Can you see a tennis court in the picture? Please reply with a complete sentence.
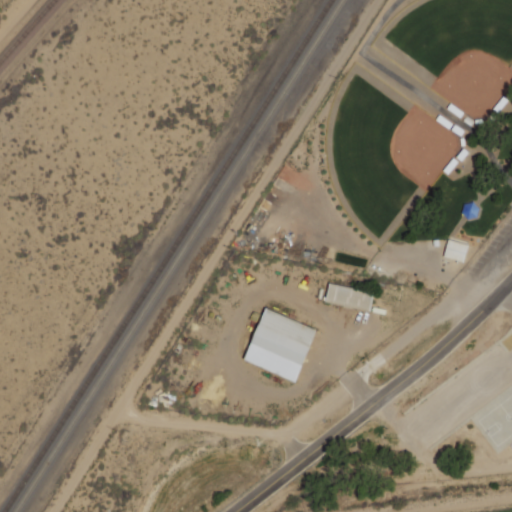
No, there appears to be no tennis court in this shot.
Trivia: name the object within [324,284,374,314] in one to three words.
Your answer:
shed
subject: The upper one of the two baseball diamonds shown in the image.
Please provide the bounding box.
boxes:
[371,0,512,119]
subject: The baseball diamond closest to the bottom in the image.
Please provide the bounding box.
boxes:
[328,63,462,244]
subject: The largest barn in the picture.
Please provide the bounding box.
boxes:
[244,308,317,380]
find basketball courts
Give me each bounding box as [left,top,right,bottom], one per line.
[472,392,512,454]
